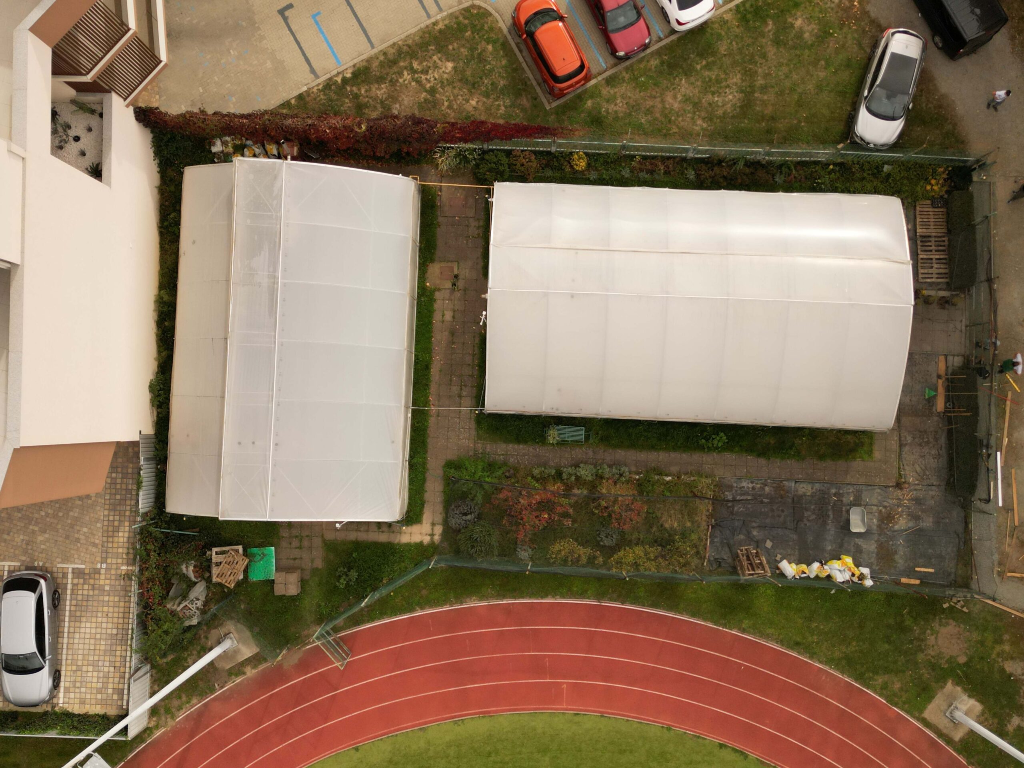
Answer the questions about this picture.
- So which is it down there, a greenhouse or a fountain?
greenhouse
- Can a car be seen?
Yes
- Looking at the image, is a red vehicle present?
Yes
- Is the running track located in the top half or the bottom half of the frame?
bottom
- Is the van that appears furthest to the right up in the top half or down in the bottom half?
top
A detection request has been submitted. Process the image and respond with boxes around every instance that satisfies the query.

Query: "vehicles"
[840,27,925,150]
[0,572,67,703]
[516,0,591,99]
[649,0,709,35]
[906,0,1017,63]
[584,0,646,57]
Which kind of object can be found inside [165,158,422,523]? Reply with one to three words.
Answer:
greenhouse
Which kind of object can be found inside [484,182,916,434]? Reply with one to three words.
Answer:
greenhouse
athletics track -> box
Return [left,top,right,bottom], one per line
[118,596,975,768]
